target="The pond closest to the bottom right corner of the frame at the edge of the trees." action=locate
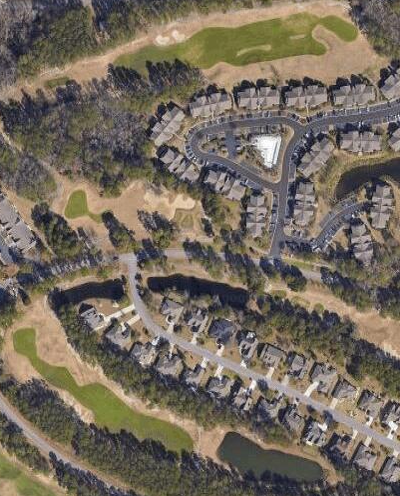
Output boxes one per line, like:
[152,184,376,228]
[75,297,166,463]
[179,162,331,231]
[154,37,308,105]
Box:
[221,434,321,478]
